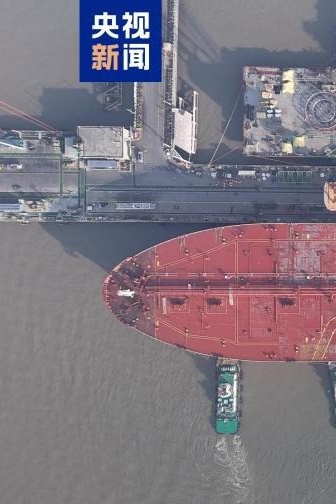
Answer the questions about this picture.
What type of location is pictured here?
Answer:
port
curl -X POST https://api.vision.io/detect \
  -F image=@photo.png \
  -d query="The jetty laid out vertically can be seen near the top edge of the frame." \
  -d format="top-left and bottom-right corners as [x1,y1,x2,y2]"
[131,0,177,150]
